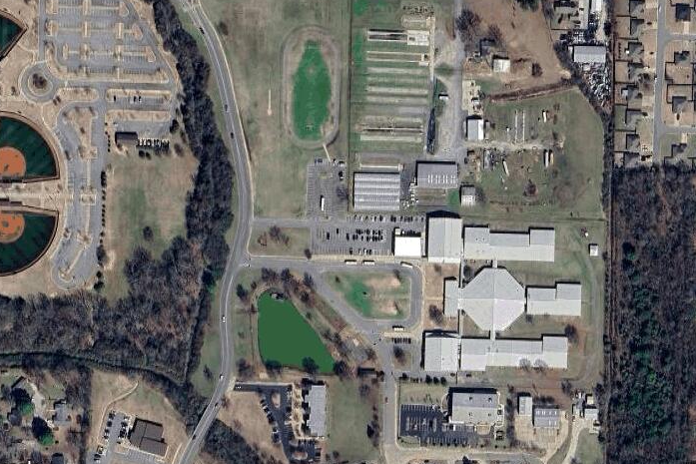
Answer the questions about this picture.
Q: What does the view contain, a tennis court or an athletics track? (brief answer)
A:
athletics track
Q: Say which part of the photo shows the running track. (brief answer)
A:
top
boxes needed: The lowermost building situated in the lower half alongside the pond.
[305,385,326,436]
